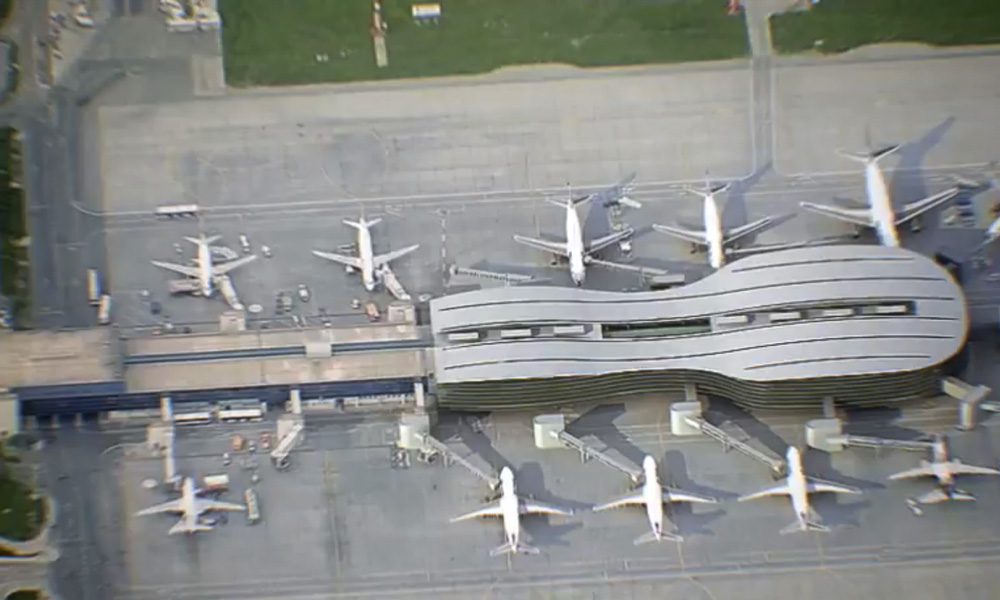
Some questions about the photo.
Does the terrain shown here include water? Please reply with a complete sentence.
No, the picture contains no water.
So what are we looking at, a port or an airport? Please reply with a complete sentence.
The picture captures an airport.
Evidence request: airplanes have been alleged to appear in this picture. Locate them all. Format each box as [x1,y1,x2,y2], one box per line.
[447,466,575,554]
[737,447,862,533]
[593,455,719,542]
[891,437,1000,507]
[136,478,245,538]
[805,136,960,248]
[515,185,633,285]
[150,225,256,298]
[312,202,418,291]
[652,173,771,271]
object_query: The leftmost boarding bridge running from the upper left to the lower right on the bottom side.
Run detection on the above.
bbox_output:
[415,426,502,492]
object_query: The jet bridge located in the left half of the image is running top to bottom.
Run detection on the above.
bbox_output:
[162,437,184,491]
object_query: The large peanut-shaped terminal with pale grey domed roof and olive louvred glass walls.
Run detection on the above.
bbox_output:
[431,246,967,409]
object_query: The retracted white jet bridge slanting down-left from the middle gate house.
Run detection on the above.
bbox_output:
[268,424,306,471]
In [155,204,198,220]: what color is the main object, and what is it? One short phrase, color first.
white vehicle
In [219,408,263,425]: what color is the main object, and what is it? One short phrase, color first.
white vehicle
